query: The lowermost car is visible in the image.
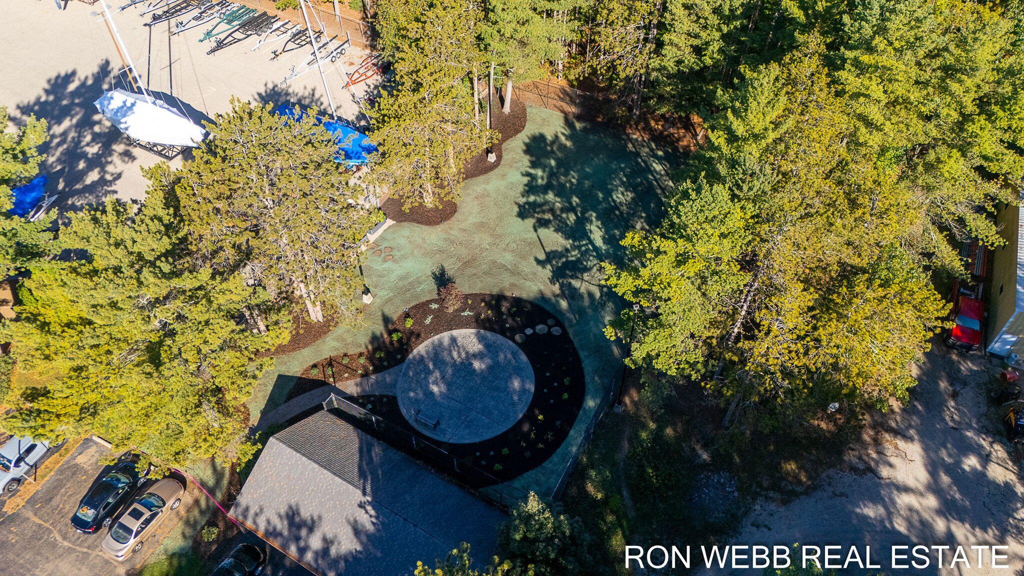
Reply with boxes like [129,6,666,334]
[200,530,266,576]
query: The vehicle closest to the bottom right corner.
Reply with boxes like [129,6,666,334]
[980,407,1024,454]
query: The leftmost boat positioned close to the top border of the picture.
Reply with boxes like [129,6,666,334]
[81,0,214,166]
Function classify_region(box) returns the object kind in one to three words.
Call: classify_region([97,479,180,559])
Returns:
car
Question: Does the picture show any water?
No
